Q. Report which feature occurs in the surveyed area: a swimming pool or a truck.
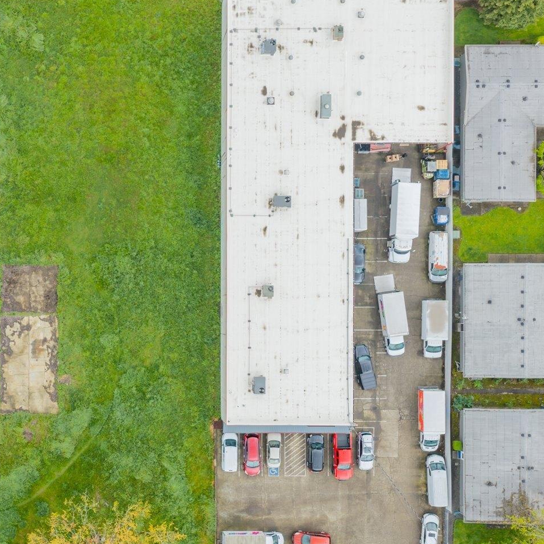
truck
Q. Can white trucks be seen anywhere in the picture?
Yes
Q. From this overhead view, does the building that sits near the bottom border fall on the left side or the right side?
right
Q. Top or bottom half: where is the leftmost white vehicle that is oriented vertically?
bottom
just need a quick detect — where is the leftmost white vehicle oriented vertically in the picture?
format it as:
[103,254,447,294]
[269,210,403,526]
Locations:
[220,432,241,474]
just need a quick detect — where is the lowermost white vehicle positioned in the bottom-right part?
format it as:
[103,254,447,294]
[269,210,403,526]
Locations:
[418,511,441,544]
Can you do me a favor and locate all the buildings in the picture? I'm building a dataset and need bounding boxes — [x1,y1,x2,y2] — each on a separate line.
[461,45,544,202]
[461,409,544,524]
[461,263,544,378]
[221,0,455,433]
